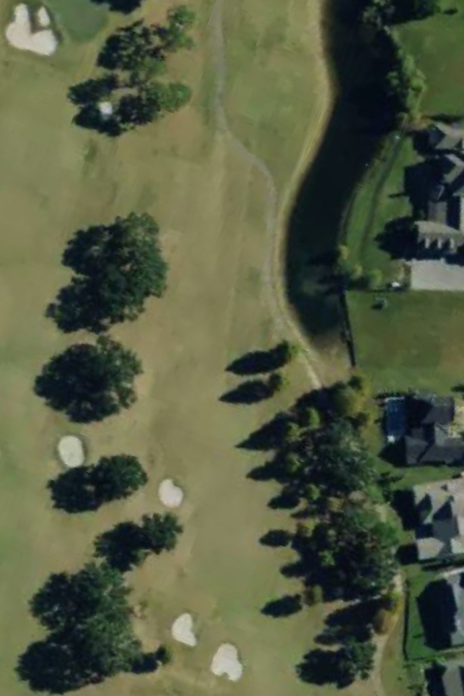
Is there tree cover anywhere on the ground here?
Yes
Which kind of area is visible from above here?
golf course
